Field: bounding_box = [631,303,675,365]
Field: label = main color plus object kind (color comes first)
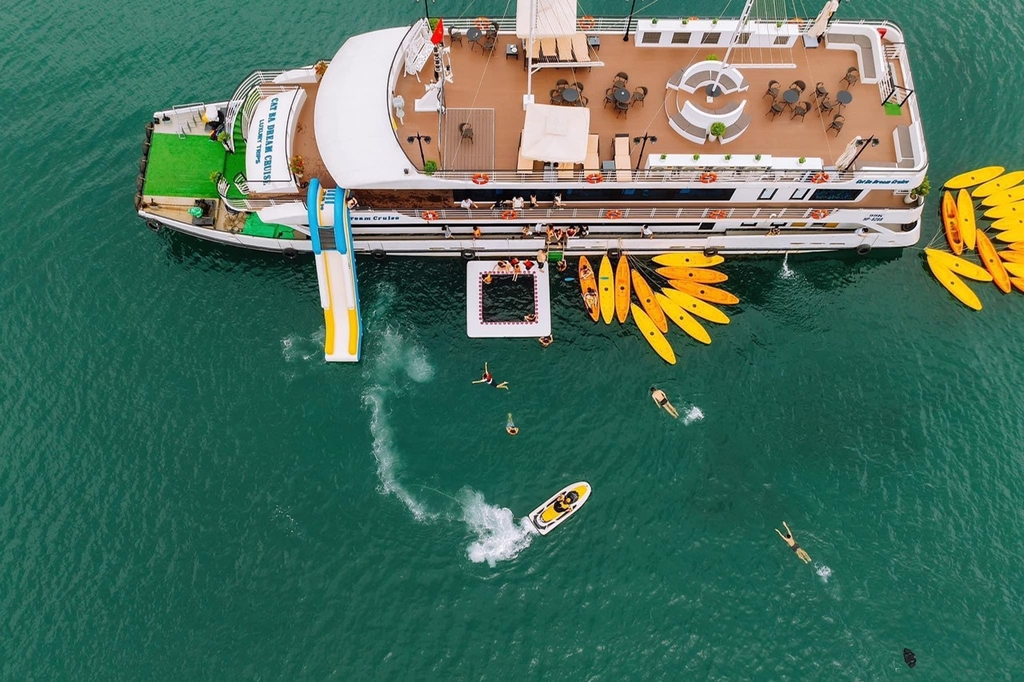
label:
yellow boat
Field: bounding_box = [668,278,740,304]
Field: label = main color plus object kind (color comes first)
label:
orange boat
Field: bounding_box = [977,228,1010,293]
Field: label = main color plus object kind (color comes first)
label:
orange boat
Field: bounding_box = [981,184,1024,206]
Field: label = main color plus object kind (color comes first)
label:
yellow boat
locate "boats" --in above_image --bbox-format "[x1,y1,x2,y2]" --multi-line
[598,255,615,324]
[925,247,994,281]
[615,255,632,323]
[990,215,1024,230]
[971,171,1024,197]
[631,269,667,333]
[1002,262,1024,279]
[652,253,725,267]
[668,278,740,304]
[981,184,1024,206]
[941,190,963,255]
[631,303,675,365]
[983,199,1024,218]
[998,248,1024,264]
[656,265,728,284]
[942,166,1007,189]
[529,484,590,539]
[958,188,978,250]
[977,228,1010,293]
[1007,241,1024,251]
[1008,276,1024,295]
[655,291,711,345]
[926,254,982,310]
[662,287,730,324]
[995,228,1024,242]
